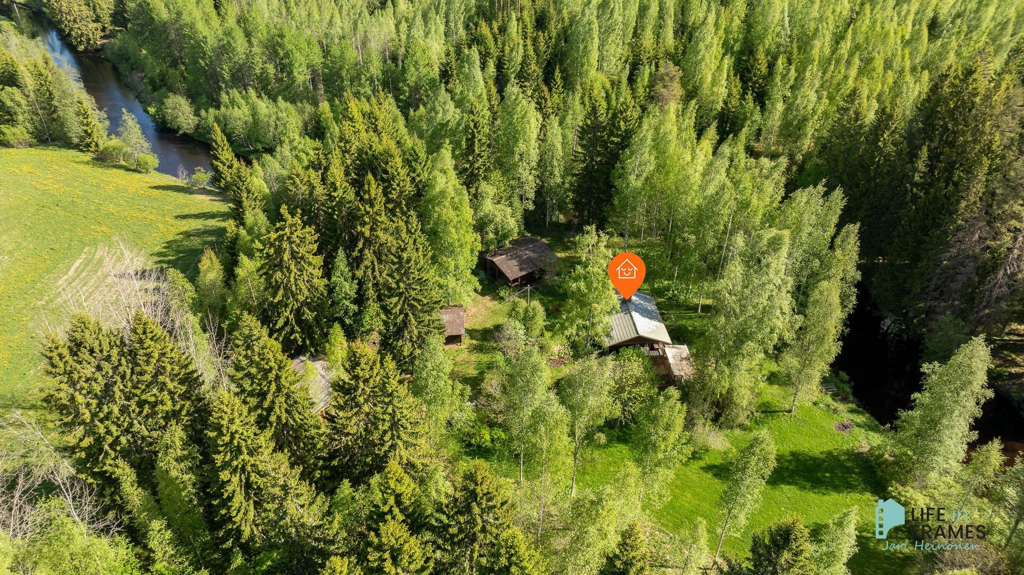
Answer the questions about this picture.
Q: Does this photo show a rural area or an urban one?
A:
rural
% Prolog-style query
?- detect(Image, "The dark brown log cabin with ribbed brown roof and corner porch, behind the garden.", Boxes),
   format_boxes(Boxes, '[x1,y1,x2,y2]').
[480,234,557,293]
